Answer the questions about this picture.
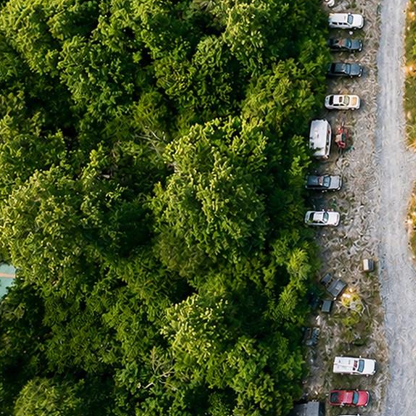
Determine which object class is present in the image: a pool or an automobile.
automobile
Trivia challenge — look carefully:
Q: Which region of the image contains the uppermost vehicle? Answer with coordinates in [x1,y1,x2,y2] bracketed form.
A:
[328,12,365,29]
